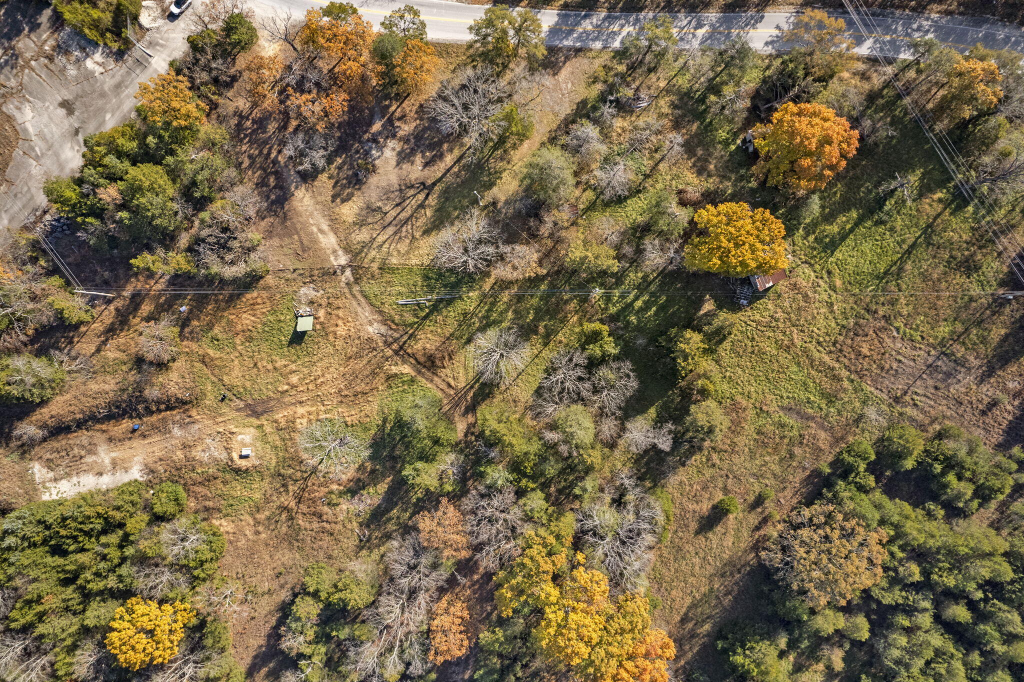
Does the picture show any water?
No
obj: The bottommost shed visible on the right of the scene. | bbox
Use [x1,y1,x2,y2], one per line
[746,266,787,293]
